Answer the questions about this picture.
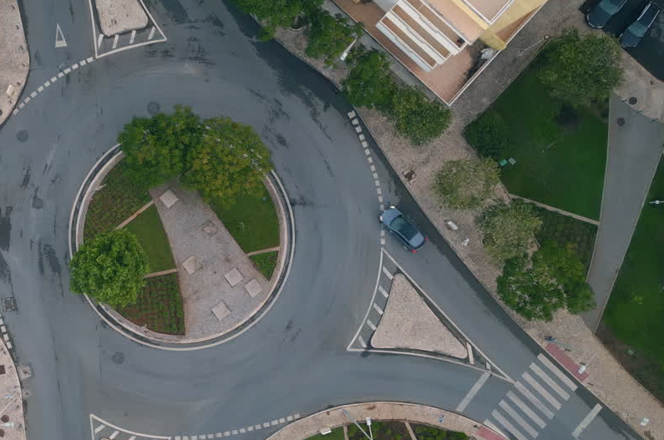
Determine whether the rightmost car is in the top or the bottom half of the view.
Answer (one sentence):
The rightmost car is in the top half of the image.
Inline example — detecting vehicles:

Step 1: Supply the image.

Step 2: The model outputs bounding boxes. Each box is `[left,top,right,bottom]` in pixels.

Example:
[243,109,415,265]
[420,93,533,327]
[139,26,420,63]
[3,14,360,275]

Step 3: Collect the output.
[617,0,664,51]
[587,0,626,27]
[378,206,428,253]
